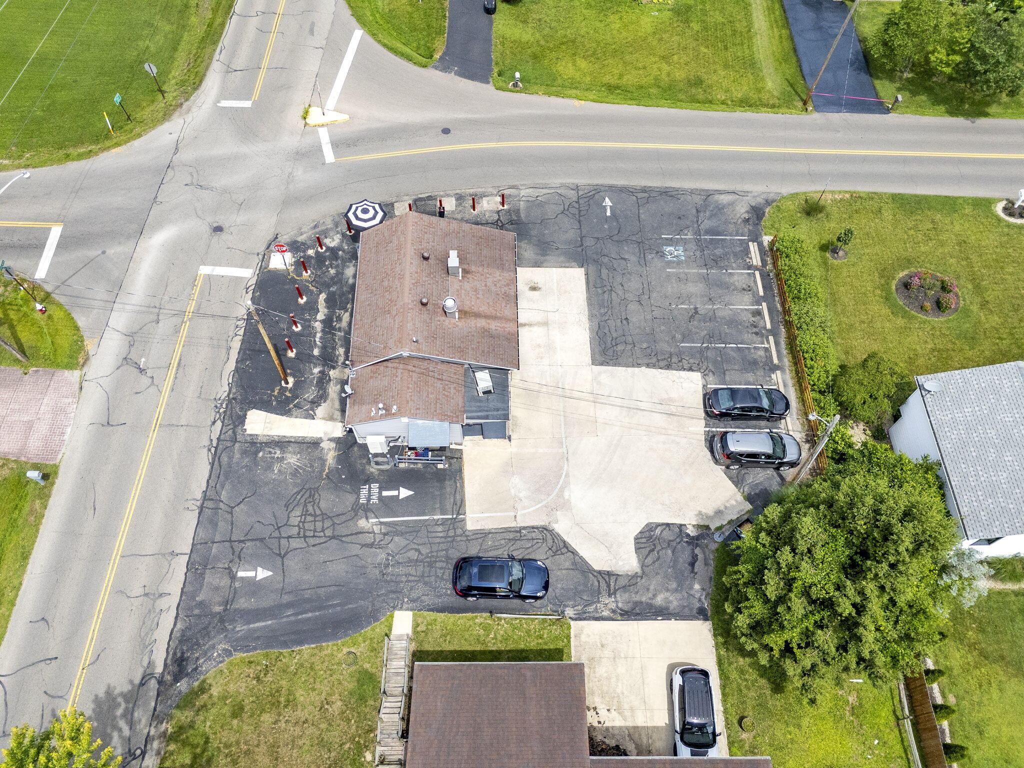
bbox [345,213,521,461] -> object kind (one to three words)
building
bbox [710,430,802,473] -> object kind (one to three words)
car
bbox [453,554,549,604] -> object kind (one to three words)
car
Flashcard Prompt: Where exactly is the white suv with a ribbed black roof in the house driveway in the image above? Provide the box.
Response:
[669,666,729,754]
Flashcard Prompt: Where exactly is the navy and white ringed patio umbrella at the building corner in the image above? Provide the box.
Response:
[345,201,388,232]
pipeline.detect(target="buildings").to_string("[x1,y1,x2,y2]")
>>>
[406,659,773,768]
[345,213,521,461]
[888,359,1024,558]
